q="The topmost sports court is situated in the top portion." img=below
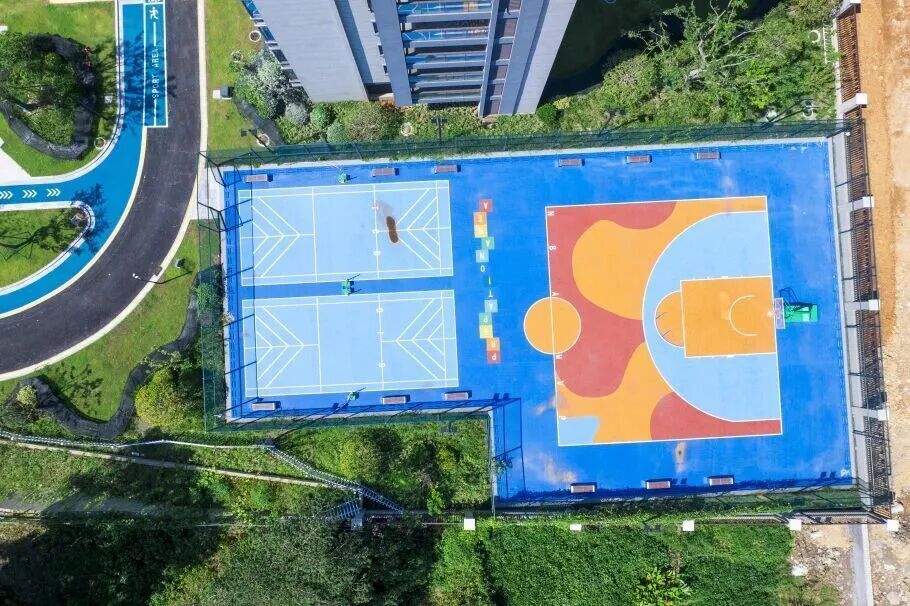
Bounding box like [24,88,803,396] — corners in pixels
[239,180,453,285]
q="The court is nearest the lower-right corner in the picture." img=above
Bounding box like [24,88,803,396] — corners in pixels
[523,195,783,446]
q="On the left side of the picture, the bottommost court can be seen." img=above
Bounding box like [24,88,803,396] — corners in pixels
[243,291,459,396]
